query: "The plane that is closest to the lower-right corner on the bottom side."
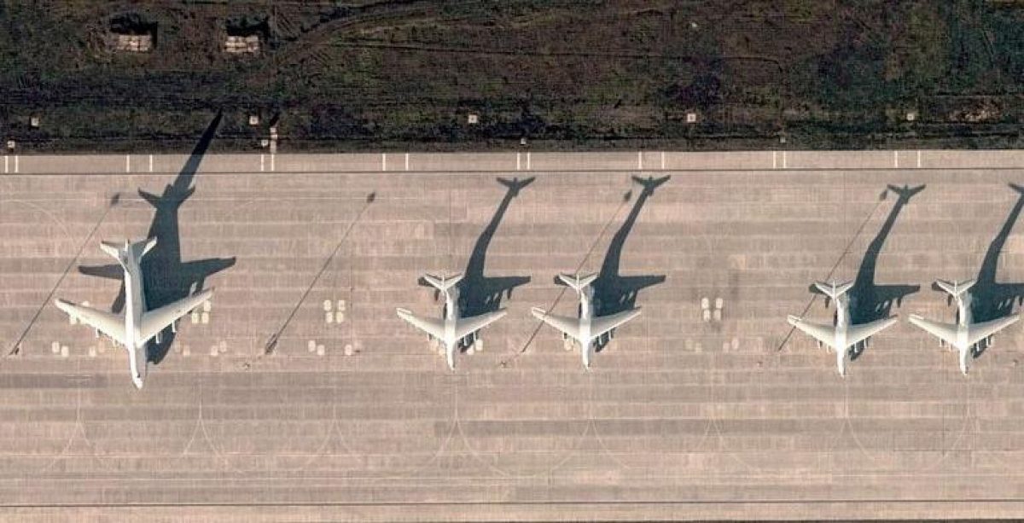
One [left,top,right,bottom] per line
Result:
[908,277,1019,375]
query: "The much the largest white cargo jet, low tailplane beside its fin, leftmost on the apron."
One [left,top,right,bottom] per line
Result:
[52,240,213,390]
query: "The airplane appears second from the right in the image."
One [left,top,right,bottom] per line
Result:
[786,279,896,377]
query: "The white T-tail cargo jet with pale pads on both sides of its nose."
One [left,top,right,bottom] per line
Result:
[397,273,506,370]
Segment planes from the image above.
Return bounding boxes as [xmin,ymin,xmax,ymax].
[908,277,1019,375]
[786,279,896,377]
[397,273,506,370]
[531,272,641,369]
[52,240,213,390]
